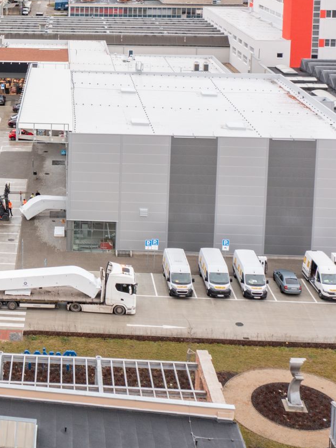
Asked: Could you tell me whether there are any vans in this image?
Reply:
Yes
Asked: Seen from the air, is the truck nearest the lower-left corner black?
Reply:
No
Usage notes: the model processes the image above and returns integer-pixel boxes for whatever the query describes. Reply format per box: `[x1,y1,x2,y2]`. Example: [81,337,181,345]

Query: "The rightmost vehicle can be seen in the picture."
[311,258,336,297]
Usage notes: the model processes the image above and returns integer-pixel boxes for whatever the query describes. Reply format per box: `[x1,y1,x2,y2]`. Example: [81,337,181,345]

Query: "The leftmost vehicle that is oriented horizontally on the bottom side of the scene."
[0,266,139,314]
